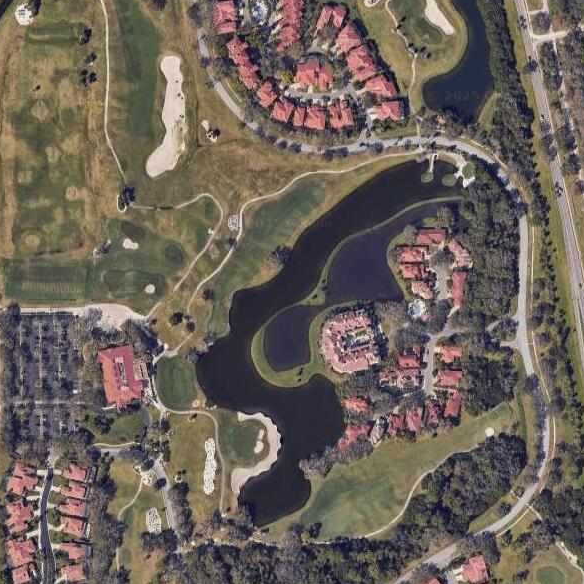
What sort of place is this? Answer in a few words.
golf course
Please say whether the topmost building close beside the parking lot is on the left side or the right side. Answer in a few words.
left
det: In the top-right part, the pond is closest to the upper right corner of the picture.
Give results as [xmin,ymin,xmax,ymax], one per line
[424,0,492,123]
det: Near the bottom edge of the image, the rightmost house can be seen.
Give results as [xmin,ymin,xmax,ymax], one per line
[463,555,487,583]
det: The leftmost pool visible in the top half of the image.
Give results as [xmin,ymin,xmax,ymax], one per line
[252,0,268,24]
